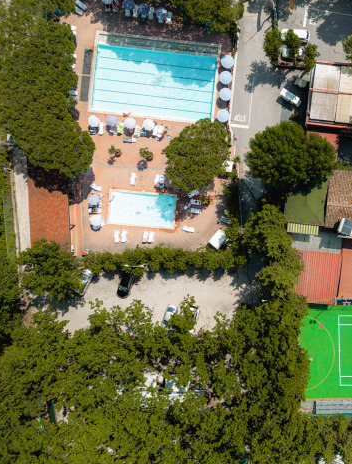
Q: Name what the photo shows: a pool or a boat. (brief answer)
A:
pool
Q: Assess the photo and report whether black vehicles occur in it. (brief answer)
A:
Yes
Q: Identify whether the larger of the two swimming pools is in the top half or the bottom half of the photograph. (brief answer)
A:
top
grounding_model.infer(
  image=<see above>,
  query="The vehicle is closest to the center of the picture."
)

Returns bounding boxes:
[117,266,136,295]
